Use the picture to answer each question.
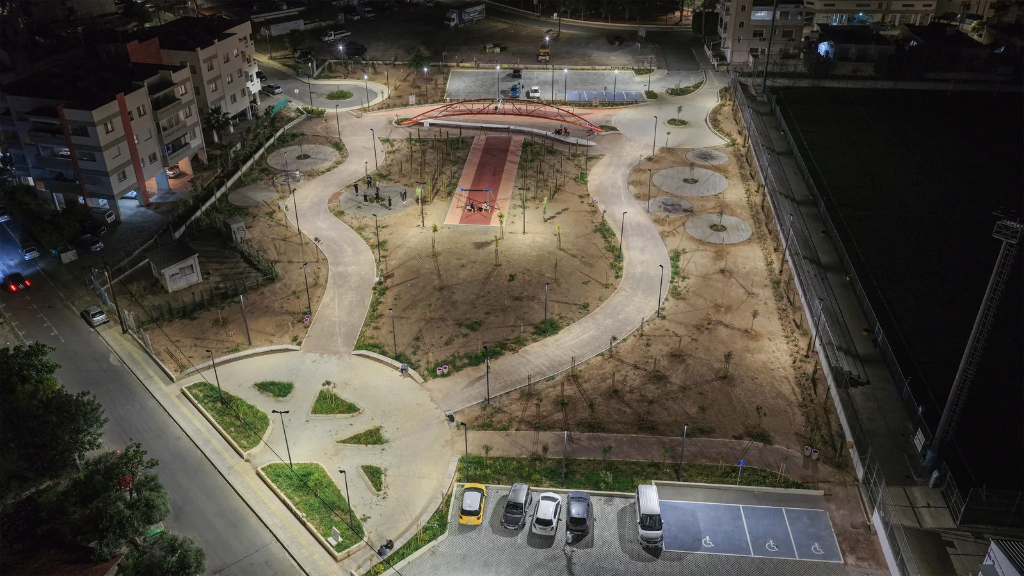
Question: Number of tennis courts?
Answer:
0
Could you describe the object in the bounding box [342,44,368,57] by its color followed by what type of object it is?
black vehicle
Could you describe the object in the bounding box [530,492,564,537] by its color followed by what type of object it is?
white car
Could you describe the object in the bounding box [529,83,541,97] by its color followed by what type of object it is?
white vehicle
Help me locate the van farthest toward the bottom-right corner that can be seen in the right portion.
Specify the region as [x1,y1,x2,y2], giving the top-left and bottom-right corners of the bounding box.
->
[632,482,675,550]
